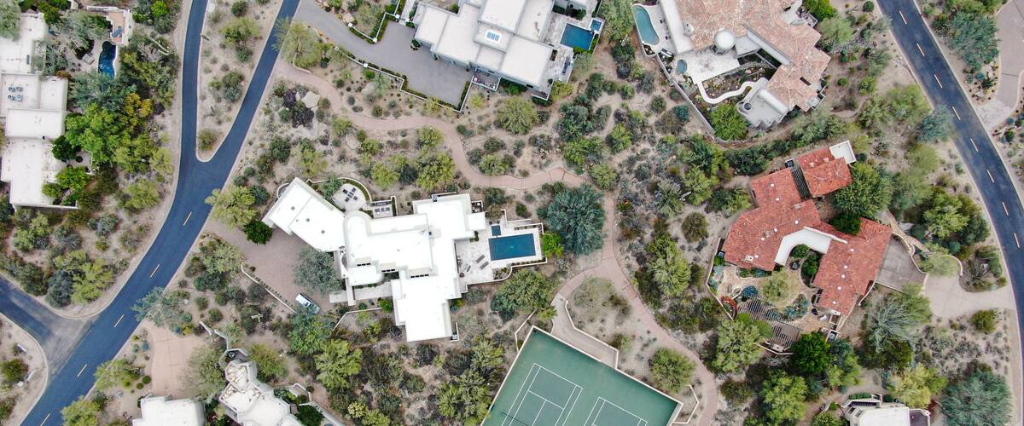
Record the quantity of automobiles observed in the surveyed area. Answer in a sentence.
The count comes to 1 automobile.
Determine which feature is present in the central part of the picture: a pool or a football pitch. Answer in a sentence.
Visible in the central part of the picture is a pool.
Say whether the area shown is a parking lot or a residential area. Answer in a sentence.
The picture captures a residential area.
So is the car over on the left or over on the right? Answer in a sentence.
The car appears in the left half of the scene.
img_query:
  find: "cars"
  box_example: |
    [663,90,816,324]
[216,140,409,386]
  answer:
[296,293,321,314]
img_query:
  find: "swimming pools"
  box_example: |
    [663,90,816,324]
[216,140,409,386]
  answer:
[96,38,118,76]
[558,21,595,48]
[588,16,604,33]
[634,2,661,47]
[675,58,689,75]
[486,232,538,263]
[490,223,502,238]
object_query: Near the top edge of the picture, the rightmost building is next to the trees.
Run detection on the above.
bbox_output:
[655,0,830,131]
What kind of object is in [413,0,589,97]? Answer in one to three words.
house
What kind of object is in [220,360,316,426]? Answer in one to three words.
house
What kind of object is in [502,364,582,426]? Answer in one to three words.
tennis court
